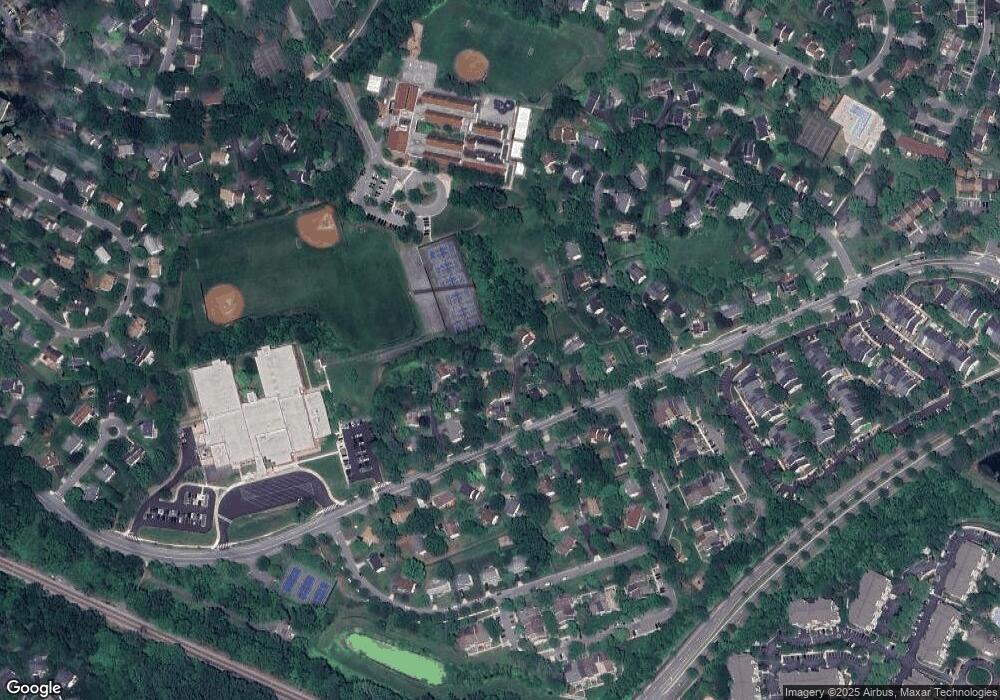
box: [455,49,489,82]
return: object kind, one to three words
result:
baseball field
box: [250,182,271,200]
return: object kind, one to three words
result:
house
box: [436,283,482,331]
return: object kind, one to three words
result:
tennis court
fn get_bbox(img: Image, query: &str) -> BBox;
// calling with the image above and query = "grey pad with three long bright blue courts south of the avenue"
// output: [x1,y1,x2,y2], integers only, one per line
[280,563,339,606]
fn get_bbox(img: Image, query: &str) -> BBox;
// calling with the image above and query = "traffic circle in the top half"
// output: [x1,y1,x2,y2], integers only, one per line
[405,172,448,216]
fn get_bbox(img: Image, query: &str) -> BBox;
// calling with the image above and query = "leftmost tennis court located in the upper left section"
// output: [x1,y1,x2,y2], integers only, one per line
[253,41,286,78]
